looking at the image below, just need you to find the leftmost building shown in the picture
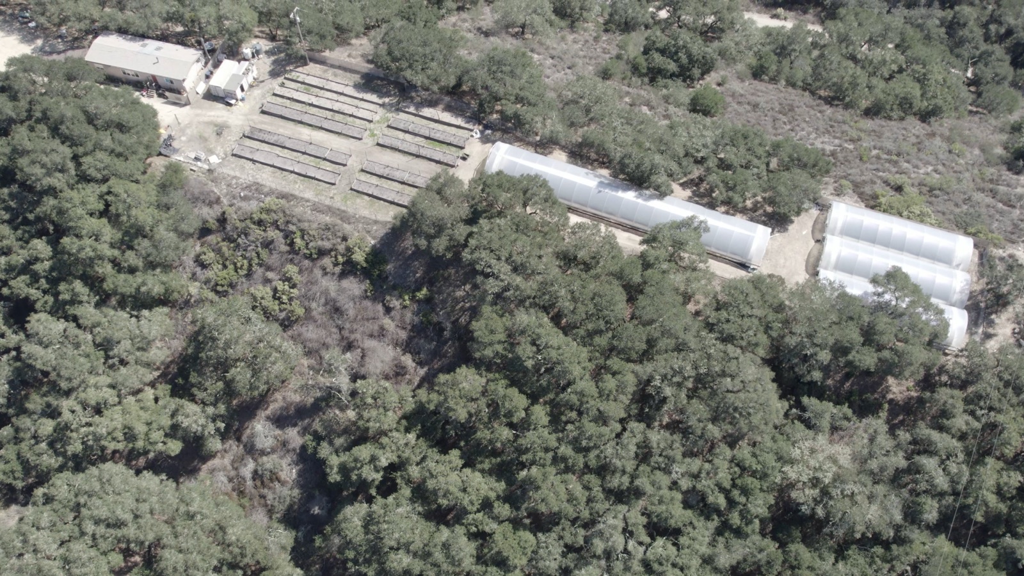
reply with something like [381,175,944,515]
[85,33,214,95]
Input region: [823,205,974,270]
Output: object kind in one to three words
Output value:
greenhouse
